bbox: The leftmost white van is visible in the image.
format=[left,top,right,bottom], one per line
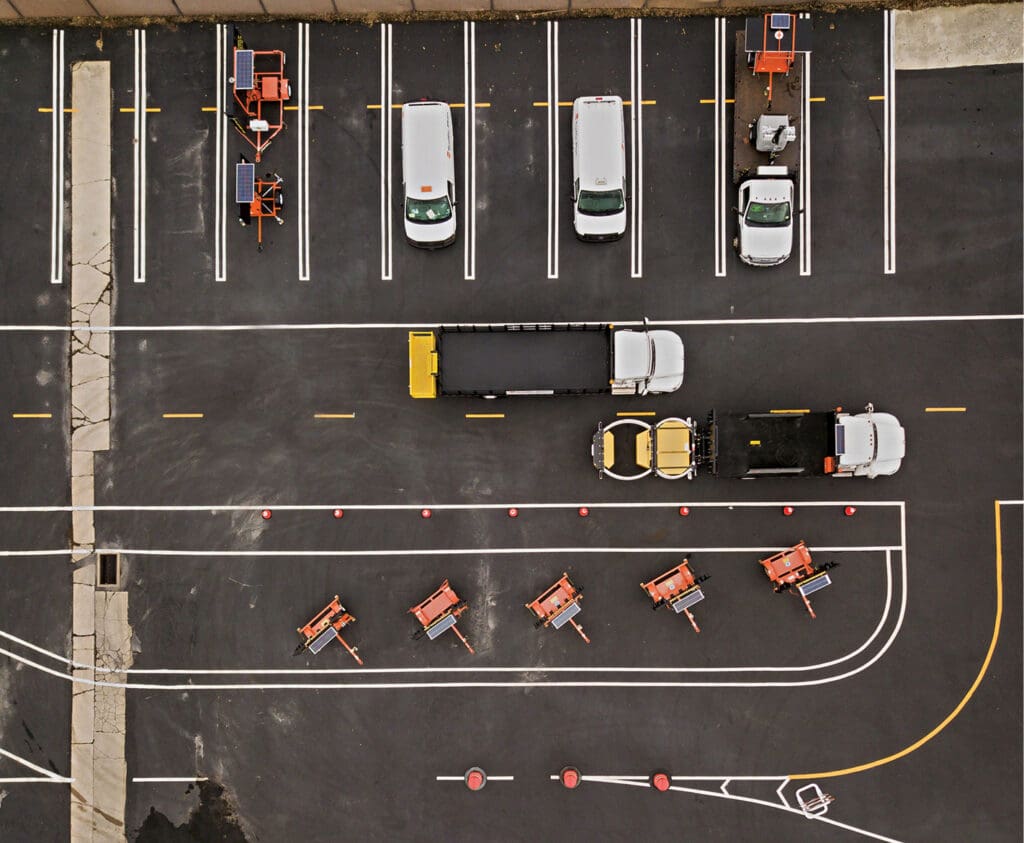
[396,101,461,250]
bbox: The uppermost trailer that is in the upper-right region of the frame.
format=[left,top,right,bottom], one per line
[745,13,812,110]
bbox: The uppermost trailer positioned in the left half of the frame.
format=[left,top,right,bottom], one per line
[228,24,293,162]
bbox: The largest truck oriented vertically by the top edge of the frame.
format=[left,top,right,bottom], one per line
[731,32,807,267]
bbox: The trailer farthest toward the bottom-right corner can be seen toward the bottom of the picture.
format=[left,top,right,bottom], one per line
[753,539,837,618]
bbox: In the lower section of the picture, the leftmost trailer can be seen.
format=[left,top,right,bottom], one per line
[294,594,365,665]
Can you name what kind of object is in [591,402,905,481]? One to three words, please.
truck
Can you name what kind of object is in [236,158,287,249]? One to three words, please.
trailer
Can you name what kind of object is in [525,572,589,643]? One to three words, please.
trailer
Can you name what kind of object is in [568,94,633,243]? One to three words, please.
van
